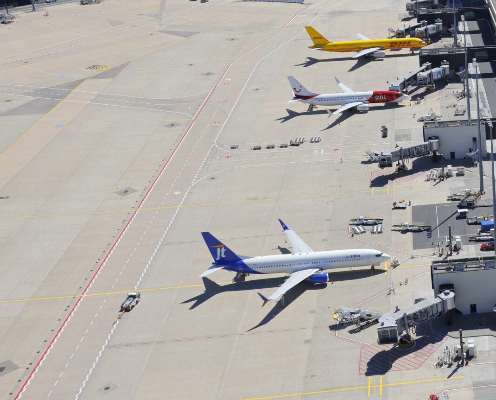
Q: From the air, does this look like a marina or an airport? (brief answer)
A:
airport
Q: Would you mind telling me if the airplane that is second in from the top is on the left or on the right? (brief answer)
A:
right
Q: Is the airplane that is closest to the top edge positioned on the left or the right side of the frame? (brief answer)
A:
right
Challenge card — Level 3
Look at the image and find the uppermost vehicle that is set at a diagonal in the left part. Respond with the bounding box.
[115,288,145,310]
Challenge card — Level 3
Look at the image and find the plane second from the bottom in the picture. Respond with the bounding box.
[290,74,409,111]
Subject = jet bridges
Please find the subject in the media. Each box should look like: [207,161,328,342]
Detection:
[415,59,465,90]
[385,60,437,93]
[402,0,437,15]
[373,136,440,172]
[393,19,429,37]
[372,286,457,355]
